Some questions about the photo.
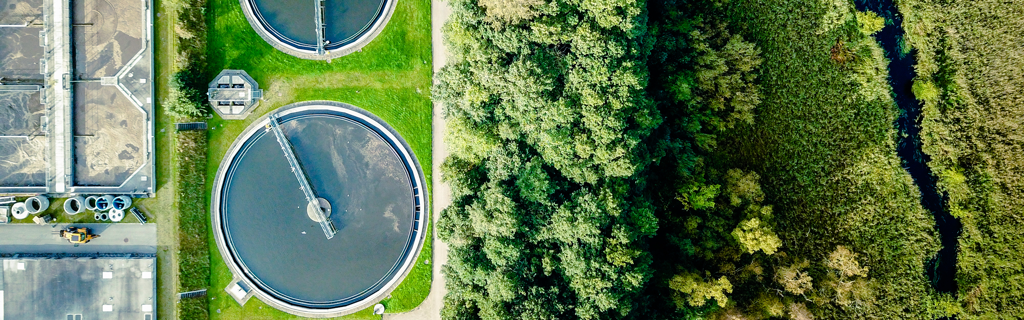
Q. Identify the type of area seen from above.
industrial area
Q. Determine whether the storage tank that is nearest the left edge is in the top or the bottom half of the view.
top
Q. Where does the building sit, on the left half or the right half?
left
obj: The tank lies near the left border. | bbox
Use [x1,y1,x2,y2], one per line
[0,0,162,195]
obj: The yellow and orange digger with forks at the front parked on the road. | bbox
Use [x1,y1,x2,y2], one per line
[49,227,104,248]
